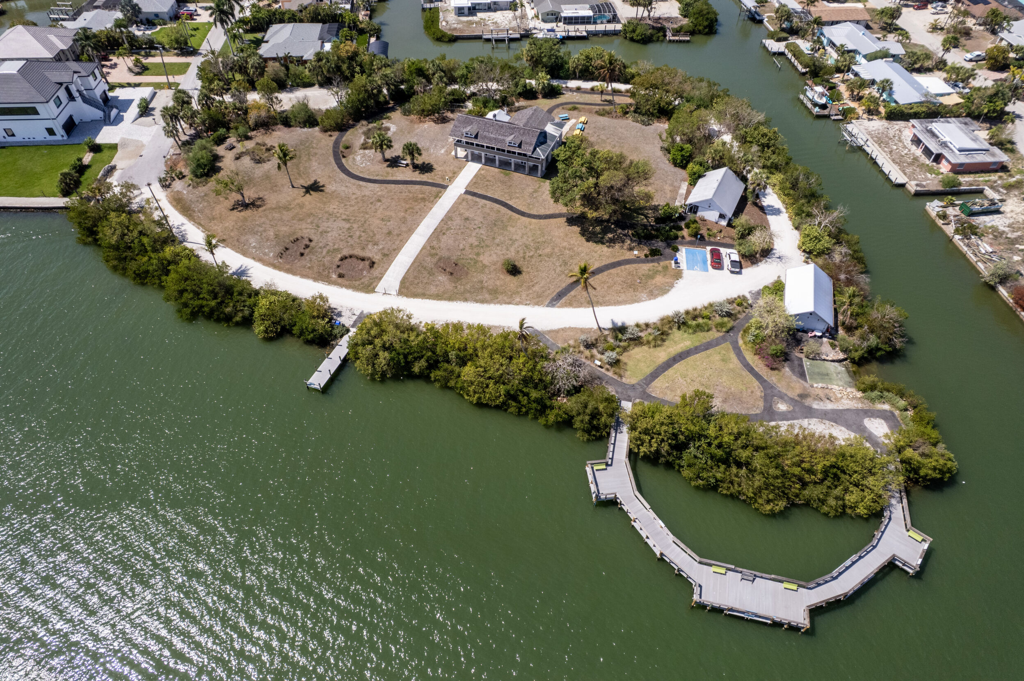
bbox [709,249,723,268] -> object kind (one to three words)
car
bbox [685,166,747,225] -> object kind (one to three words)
house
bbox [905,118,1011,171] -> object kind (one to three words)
house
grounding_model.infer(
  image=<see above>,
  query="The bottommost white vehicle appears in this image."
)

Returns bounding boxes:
[726,249,742,271]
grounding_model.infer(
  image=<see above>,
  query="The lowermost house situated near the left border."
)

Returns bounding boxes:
[0,54,116,141]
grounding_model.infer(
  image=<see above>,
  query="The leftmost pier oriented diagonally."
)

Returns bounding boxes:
[303,328,356,399]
